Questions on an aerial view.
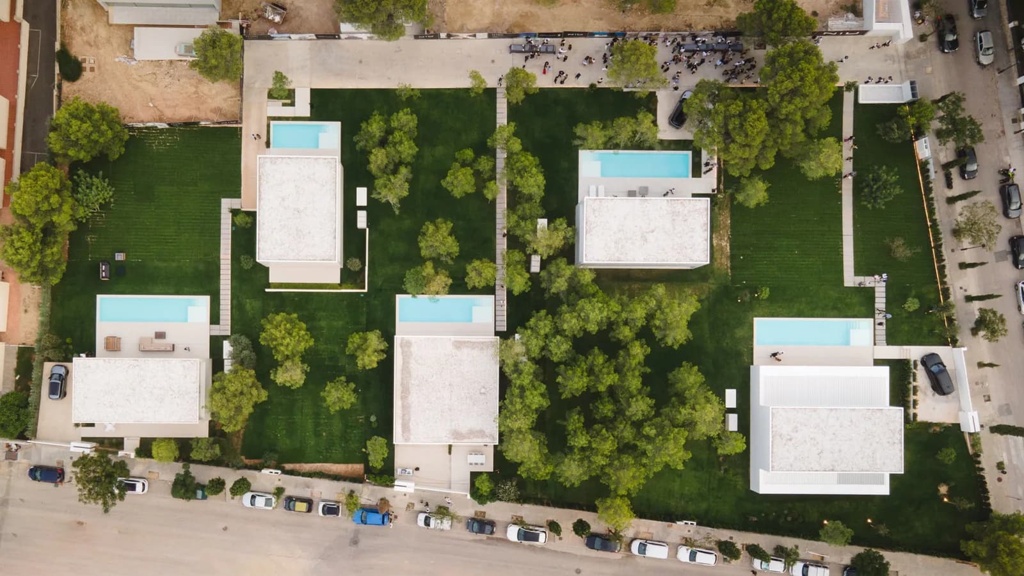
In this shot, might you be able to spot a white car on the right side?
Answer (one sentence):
Yes, a white car can be seen on the right side.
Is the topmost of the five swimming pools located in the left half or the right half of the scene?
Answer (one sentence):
The topmost of the five swimming pools sits on the left side.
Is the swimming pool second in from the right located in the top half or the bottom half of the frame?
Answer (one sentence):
The swimming pool second in from the right sits in the top half of the picture.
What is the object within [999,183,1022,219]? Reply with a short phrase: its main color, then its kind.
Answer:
gray car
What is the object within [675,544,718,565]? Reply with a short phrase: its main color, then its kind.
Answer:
white car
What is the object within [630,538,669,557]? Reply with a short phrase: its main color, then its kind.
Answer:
white car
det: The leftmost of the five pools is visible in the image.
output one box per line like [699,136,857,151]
[97,295,210,357]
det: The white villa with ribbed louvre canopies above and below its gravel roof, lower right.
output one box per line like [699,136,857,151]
[749,365,903,494]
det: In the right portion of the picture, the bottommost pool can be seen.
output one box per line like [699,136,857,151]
[753,318,874,365]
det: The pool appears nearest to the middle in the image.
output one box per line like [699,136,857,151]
[396,295,495,336]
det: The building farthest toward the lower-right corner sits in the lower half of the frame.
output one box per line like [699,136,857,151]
[948,410,980,431]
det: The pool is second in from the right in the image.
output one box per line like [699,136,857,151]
[578,150,692,199]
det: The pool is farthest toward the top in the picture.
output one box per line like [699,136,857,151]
[271,122,341,156]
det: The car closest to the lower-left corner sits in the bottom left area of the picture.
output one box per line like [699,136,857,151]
[29,466,66,483]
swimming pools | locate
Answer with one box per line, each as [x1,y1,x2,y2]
[396,295,495,336]
[578,150,692,199]
[753,318,874,365]
[271,122,341,156]
[97,295,210,357]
